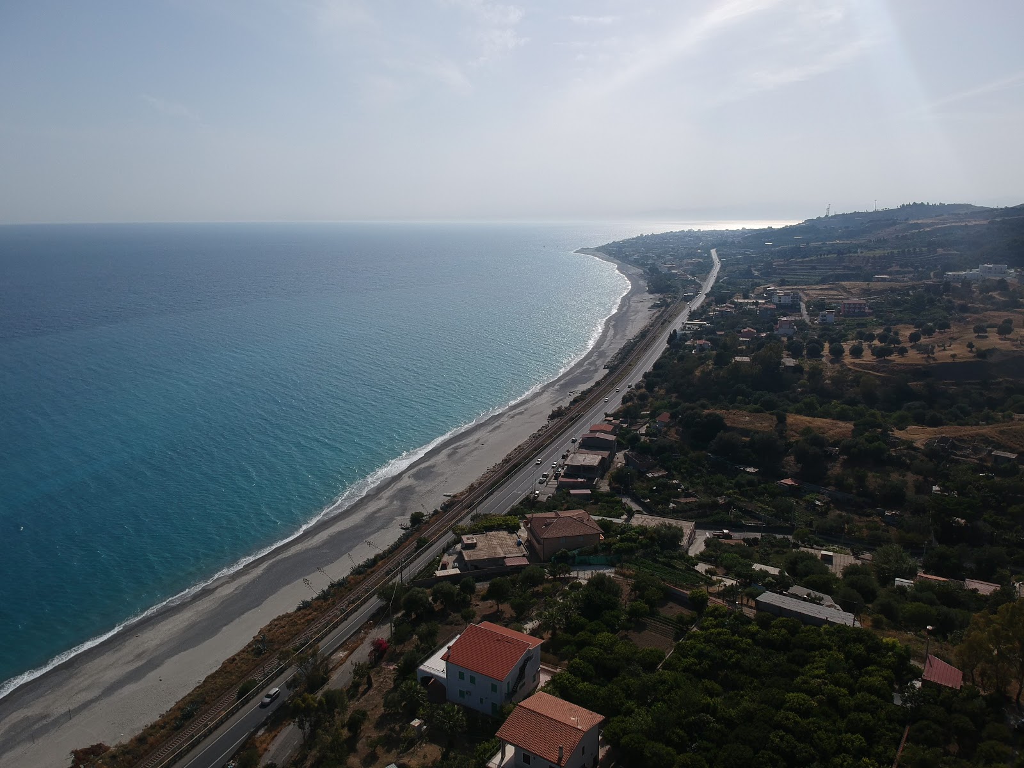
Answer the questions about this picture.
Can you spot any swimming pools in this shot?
No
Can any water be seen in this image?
Yes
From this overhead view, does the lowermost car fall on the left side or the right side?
left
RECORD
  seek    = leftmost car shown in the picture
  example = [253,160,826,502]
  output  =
[258,689,284,710]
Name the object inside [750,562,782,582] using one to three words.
shed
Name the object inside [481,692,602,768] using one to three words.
house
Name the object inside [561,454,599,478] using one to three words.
building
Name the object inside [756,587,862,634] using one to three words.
shed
